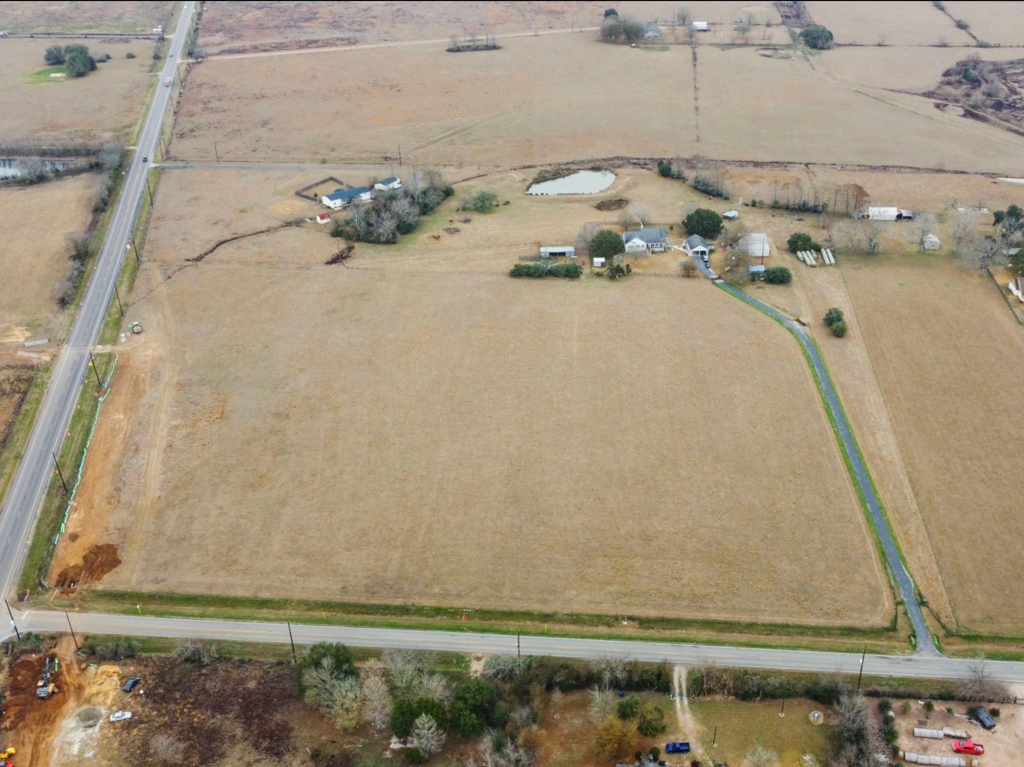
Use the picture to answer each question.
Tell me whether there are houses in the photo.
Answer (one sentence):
Yes, you can see a house in this photo.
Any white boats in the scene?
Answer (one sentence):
No, there is no white boat in the image.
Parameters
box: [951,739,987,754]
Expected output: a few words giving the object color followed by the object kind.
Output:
red vehicle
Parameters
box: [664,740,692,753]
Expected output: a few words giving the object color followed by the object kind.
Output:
blue vehicle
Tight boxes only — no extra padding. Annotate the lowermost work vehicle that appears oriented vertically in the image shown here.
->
[35,659,53,701]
